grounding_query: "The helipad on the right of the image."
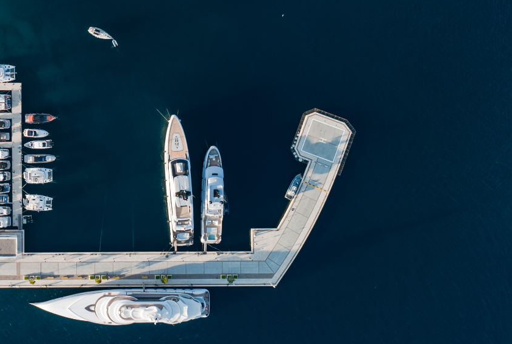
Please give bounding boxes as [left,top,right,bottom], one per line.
[290,107,357,176]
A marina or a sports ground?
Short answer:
marina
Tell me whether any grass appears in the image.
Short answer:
No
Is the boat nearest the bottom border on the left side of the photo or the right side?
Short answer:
left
